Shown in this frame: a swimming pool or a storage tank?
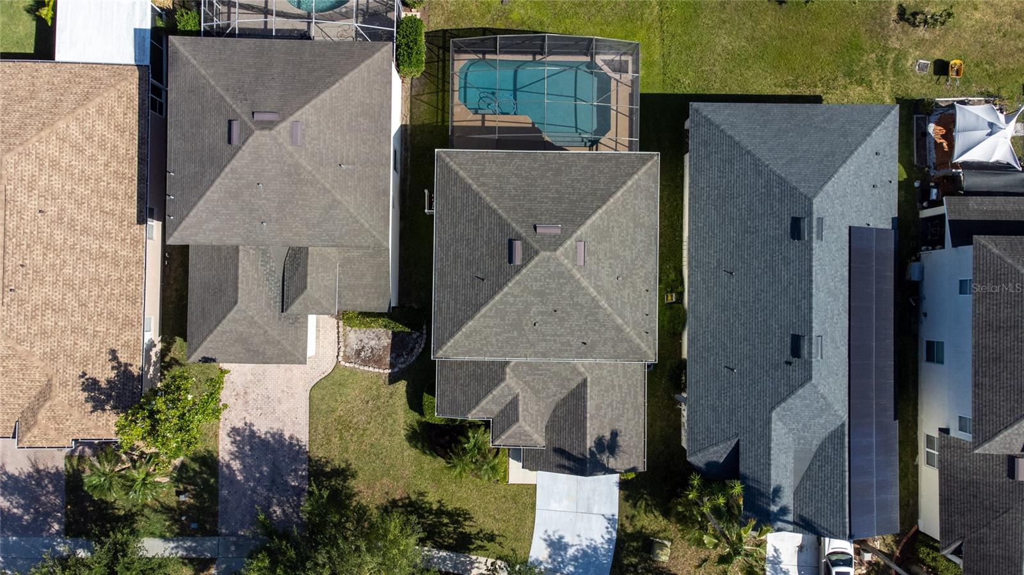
swimming pool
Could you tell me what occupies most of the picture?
buildings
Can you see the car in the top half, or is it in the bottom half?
bottom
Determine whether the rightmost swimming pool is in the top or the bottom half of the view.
top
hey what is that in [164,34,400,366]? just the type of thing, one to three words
house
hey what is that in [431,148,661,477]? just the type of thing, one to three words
house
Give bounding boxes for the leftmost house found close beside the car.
[682,101,900,540]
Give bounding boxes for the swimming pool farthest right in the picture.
[455,57,616,150]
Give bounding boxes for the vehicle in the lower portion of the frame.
[816,537,861,575]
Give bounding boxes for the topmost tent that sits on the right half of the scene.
[919,102,1024,175]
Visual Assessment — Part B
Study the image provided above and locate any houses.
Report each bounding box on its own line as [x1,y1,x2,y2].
[164,34,400,366]
[0,57,161,450]
[682,101,900,540]
[919,193,1024,575]
[431,148,661,477]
